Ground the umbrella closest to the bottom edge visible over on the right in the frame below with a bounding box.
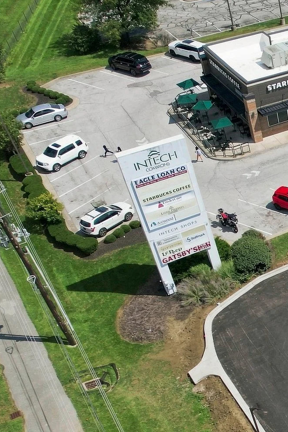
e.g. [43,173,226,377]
[206,112,240,141]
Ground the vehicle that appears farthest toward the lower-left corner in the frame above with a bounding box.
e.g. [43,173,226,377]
[73,201,134,237]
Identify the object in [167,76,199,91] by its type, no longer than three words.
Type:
umbrella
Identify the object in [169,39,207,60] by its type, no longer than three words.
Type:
car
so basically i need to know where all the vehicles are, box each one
[73,201,134,237]
[34,135,91,172]
[213,207,239,231]
[109,52,148,75]
[270,183,288,210]
[169,39,207,60]
[14,103,68,128]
